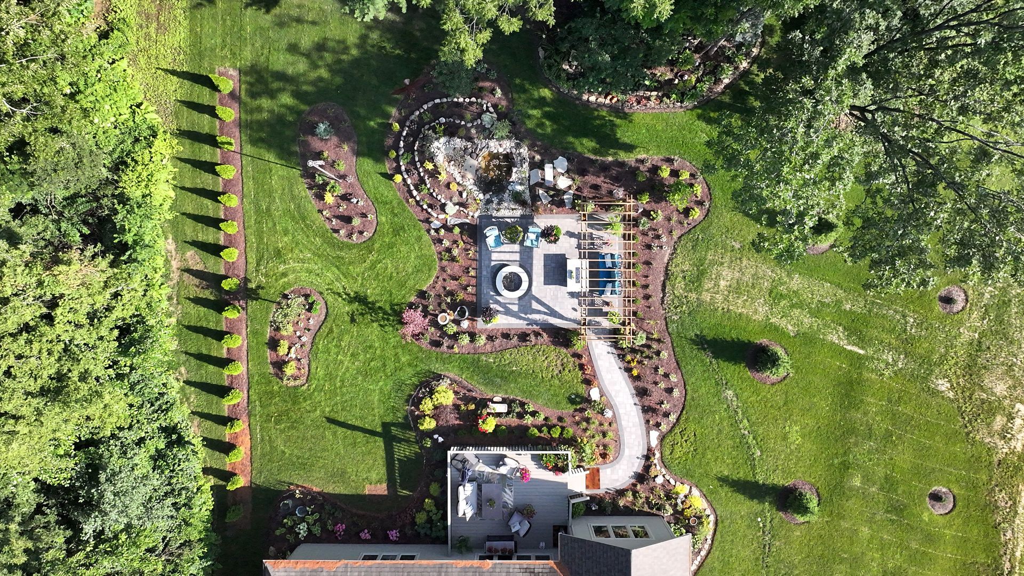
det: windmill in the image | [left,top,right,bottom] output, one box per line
[307,159,344,182]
